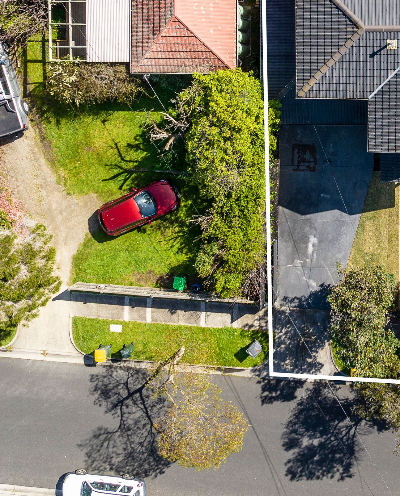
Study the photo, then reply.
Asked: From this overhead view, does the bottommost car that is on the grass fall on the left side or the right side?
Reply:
left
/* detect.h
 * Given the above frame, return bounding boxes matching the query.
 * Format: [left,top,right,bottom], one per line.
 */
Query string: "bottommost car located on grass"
[92,176,187,238]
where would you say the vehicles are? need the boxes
[92,176,187,238]
[0,36,31,140]
[61,467,148,496]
